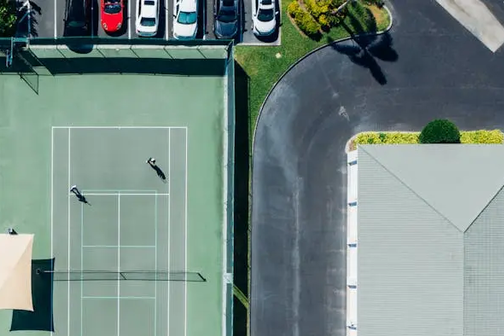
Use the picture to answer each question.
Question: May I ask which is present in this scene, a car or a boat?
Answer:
car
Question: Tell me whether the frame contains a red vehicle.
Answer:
Yes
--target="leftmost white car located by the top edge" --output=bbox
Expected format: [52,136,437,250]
[135,0,159,38]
